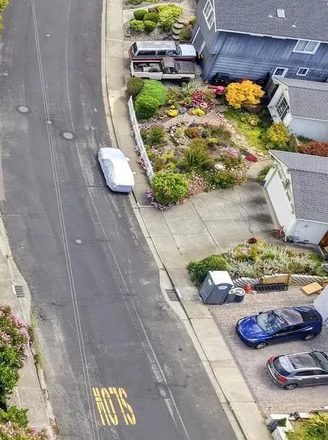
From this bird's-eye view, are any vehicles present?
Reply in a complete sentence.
Yes, a vehicle is visible in the scene.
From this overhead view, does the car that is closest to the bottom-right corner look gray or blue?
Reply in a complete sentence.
From above, the car that is closest to the bottom-right corner appears gray.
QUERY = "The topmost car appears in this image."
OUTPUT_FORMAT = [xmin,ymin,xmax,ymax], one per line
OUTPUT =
[133,39,198,64]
